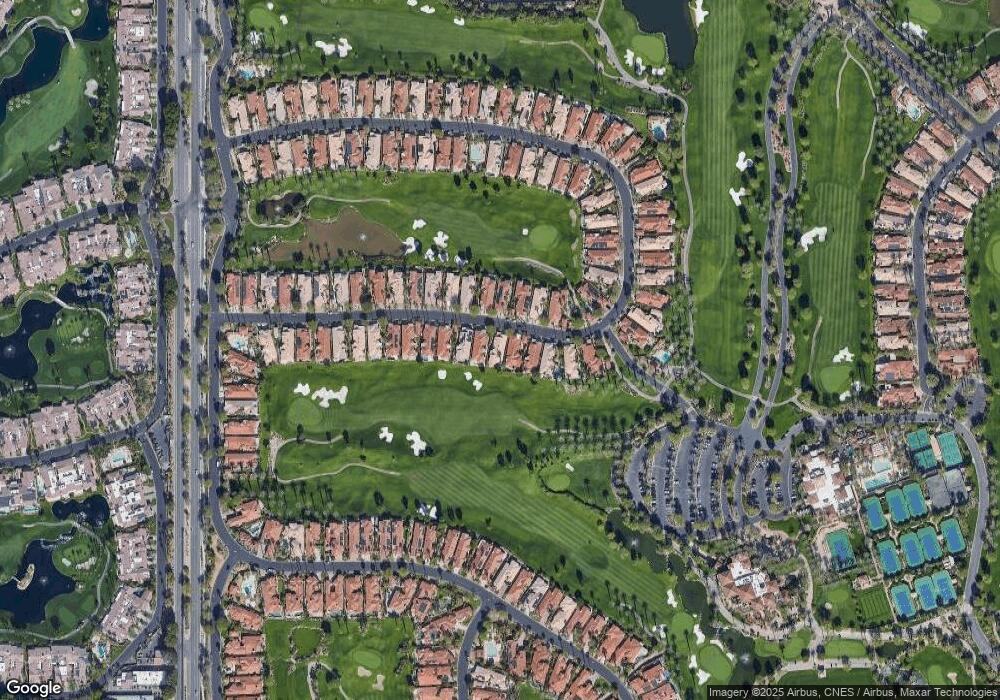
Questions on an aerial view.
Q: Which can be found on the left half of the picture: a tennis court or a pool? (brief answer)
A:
pool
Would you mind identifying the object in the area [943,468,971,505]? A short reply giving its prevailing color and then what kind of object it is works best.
gray tennis court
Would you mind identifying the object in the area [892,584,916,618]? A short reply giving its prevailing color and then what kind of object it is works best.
blue tennis court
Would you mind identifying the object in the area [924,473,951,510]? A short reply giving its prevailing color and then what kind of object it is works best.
gray tennis court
